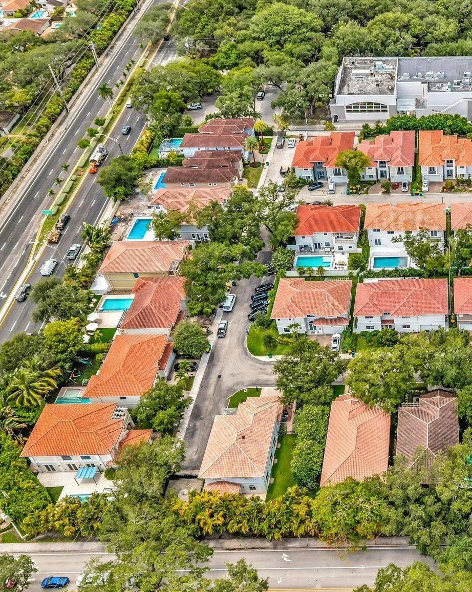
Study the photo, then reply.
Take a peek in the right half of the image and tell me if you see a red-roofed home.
Yes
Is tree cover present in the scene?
Yes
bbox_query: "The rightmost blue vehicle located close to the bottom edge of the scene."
[38,575,73,590]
